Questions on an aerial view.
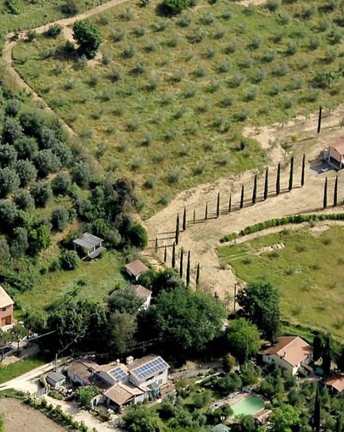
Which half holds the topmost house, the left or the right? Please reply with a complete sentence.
You can find the topmost house on the right side of the picture.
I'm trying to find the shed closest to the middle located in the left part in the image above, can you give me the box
[122,258,149,281]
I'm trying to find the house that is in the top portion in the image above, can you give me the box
[322,135,344,170]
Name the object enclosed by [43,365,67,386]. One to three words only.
shed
